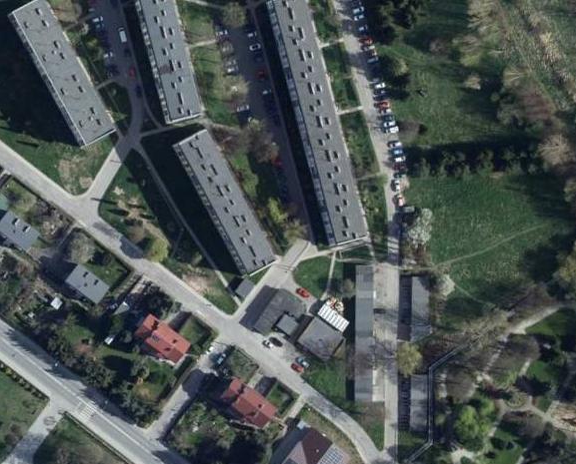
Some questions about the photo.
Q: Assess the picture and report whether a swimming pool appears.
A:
No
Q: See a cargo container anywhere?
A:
No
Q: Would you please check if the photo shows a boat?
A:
No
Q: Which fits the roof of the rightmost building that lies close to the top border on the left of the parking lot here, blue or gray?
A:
gray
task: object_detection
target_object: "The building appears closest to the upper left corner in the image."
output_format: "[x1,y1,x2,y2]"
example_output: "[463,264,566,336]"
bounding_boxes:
[9,0,115,148]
